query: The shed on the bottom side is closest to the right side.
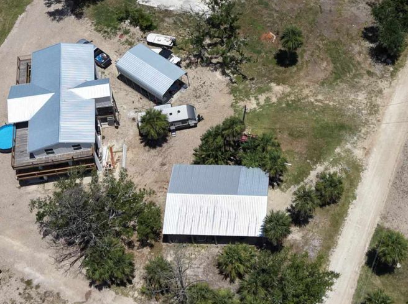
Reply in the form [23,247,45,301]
[163,165,268,243]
